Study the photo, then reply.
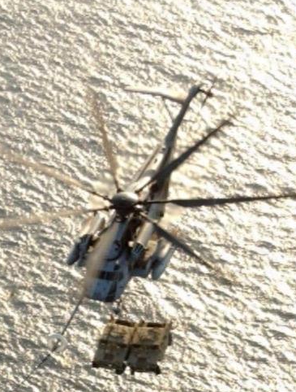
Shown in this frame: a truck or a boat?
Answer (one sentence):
There is a truck in the scene.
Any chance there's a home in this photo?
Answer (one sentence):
No, there's no home here.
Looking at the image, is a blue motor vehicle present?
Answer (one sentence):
No, there isn't any blue motor vehicle down there.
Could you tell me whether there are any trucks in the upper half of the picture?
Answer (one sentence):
No, I can find no truck in the upper half of the picture.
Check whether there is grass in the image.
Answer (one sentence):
No, no grass is visible.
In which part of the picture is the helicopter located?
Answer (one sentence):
The helicopter sits in the center section of the image.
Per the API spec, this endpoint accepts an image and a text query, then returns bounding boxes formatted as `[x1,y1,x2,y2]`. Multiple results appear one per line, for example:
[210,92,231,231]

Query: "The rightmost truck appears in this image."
[125,318,170,372]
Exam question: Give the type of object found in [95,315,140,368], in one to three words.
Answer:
truck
